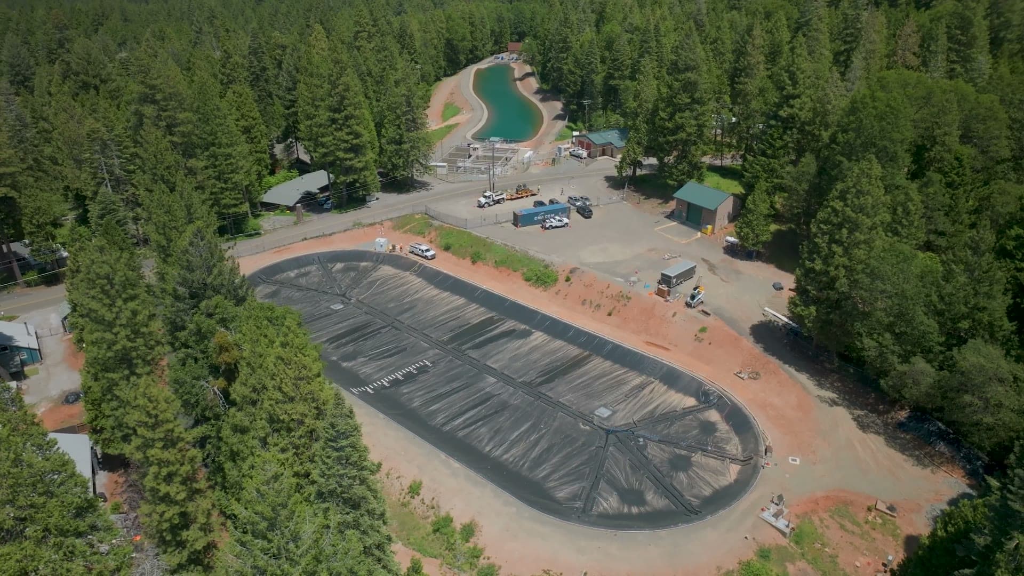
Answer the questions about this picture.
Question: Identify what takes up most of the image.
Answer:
trees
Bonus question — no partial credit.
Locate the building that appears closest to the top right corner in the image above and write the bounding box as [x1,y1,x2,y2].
[671,182,744,234]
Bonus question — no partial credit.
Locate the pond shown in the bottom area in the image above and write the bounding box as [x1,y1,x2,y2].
[246,248,768,535]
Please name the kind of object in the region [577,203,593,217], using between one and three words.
car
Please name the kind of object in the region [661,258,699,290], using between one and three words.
trailer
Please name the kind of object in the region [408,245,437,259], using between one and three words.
vehicle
